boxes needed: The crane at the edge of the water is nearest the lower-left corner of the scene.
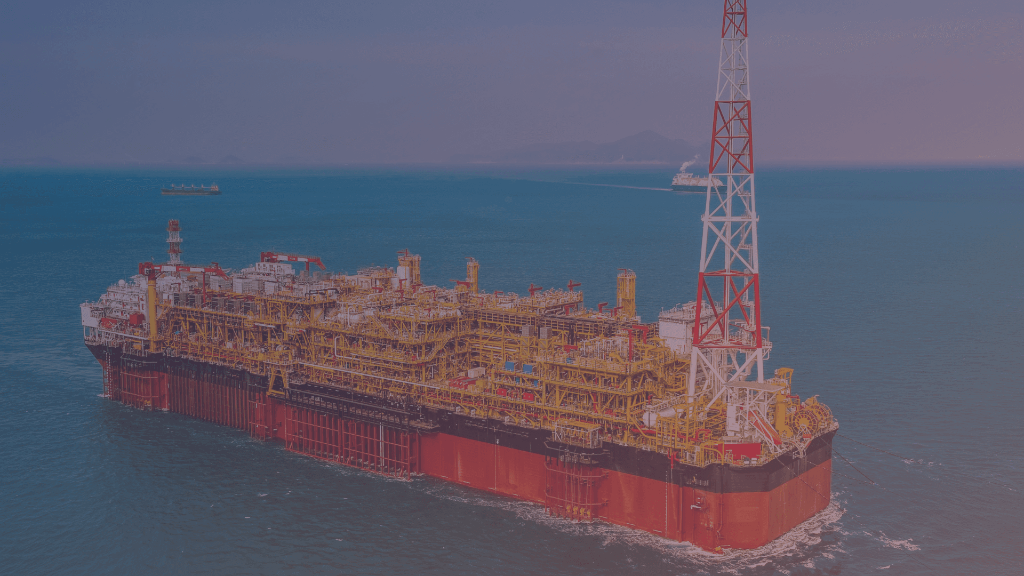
[134,256,235,353]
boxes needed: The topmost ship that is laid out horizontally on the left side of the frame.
[162,182,223,194]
